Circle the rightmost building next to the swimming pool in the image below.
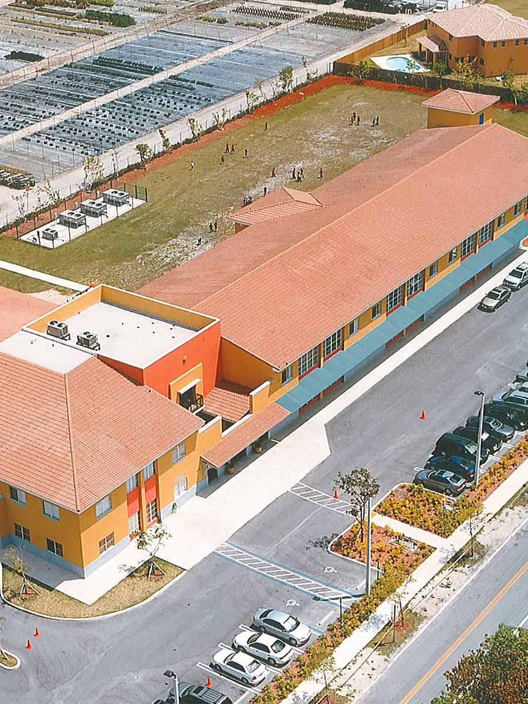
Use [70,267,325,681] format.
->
[416,10,528,76]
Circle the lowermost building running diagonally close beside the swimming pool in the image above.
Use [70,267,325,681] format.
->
[0,87,528,576]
